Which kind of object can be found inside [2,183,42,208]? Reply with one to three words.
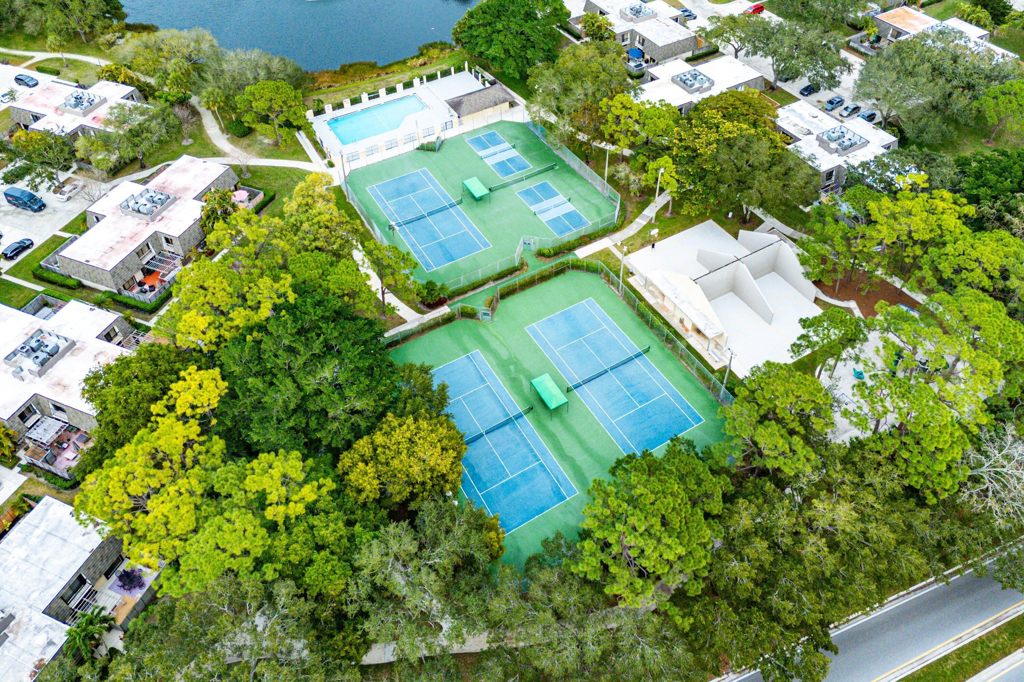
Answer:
vehicle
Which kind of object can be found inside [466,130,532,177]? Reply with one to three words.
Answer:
sports court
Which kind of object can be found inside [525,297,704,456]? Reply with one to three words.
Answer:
tennis court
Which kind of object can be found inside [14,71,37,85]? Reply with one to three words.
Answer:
car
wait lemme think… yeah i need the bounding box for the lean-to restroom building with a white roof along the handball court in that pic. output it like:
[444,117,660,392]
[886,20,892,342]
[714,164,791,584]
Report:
[644,269,725,352]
